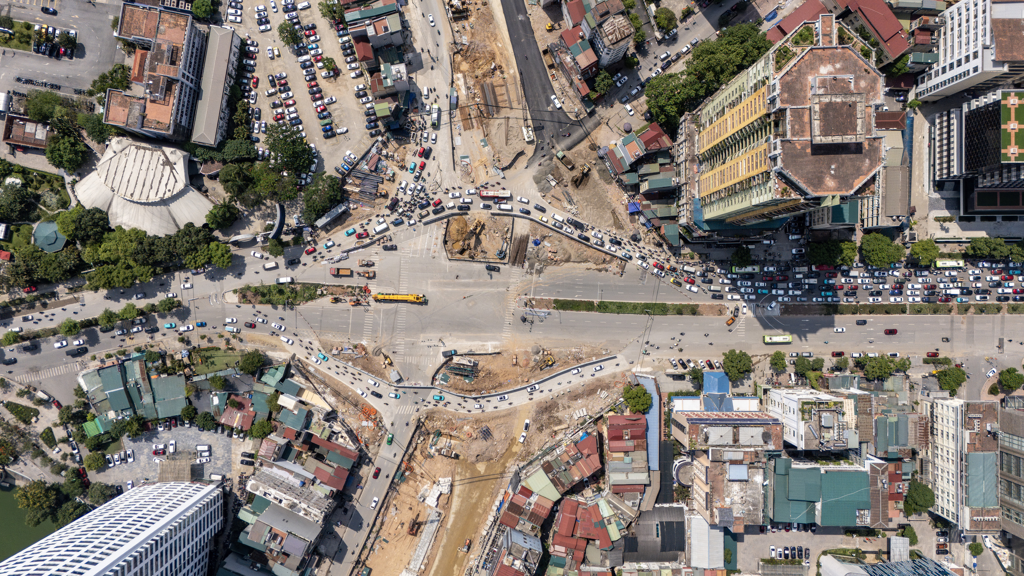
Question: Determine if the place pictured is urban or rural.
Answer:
urban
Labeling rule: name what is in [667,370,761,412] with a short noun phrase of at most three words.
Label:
building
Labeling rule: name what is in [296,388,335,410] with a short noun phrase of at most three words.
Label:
house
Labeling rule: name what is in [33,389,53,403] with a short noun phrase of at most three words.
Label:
vehicle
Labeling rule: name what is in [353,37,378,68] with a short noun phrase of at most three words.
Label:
house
